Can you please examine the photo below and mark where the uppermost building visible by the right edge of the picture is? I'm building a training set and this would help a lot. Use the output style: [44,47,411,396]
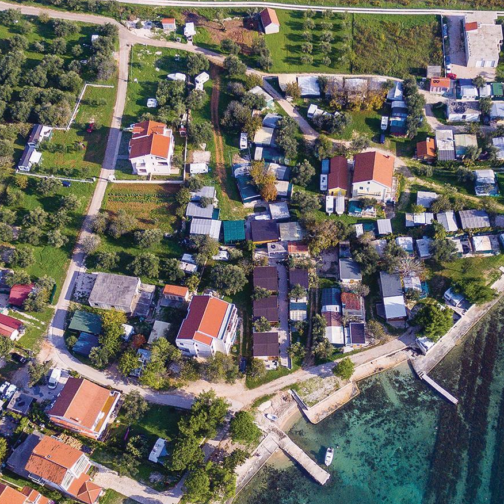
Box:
[460,12,499,75]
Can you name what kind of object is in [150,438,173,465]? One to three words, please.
camper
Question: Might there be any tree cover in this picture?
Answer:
Yes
